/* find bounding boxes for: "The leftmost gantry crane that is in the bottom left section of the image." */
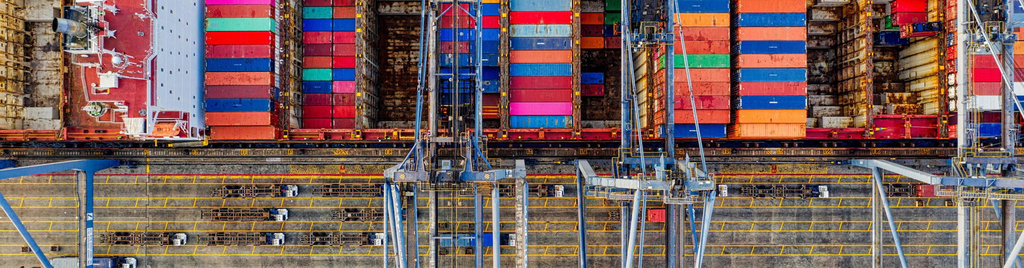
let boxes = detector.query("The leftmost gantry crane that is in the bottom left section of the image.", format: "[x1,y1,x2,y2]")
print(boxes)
[0,159,149,268]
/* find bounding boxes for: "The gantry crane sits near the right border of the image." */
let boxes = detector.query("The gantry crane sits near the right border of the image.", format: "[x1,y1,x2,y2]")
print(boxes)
[818,0,1024,268]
